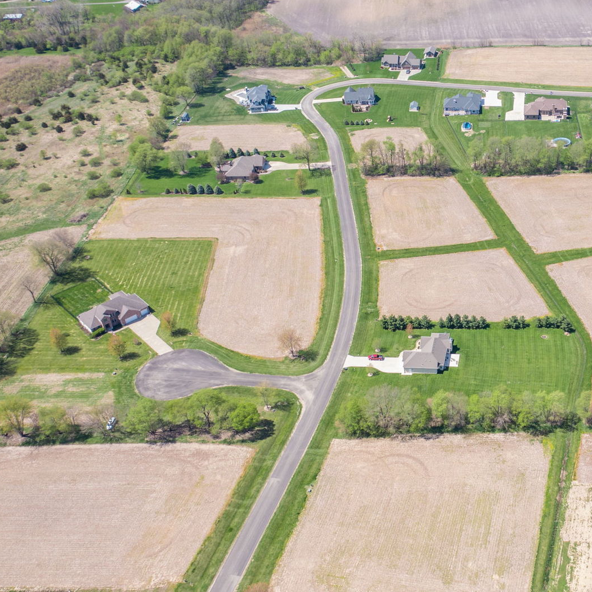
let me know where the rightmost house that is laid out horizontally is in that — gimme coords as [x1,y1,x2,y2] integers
[523,101,567,119]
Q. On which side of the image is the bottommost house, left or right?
right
